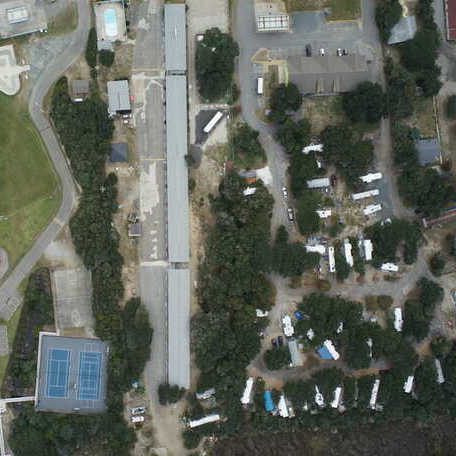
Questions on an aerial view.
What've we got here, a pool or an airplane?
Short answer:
pool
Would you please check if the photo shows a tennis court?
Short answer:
Yes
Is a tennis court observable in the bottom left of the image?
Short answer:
Yes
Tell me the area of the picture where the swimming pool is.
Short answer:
top left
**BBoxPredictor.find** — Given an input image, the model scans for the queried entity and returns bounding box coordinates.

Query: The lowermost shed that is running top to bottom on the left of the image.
[169,269,190,387]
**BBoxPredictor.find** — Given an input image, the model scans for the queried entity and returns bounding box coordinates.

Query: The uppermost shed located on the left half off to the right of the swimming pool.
[166,4,185,71]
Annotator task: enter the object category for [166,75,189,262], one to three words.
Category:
shed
